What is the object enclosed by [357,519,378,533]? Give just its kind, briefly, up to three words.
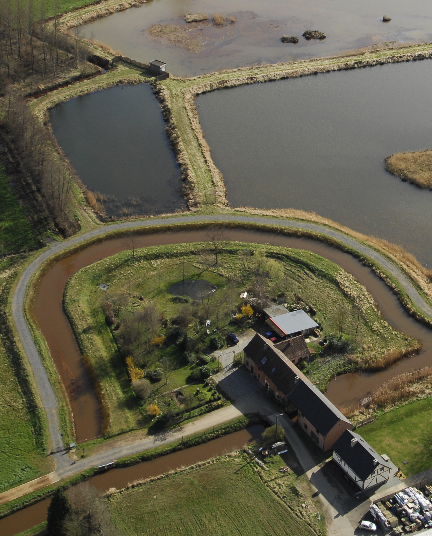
vehicle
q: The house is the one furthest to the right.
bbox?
[330,429,392,492]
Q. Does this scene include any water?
Yes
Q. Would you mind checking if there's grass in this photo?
Yes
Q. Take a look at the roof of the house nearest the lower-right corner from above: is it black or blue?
black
